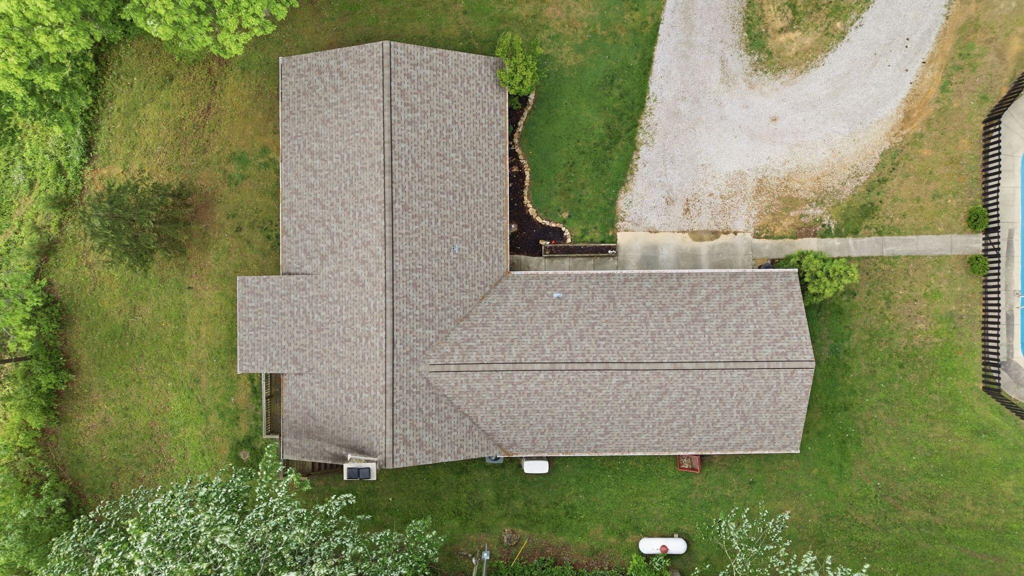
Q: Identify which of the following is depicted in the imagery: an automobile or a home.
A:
home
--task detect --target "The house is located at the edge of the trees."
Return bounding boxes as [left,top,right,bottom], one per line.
[235,42,814,481]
